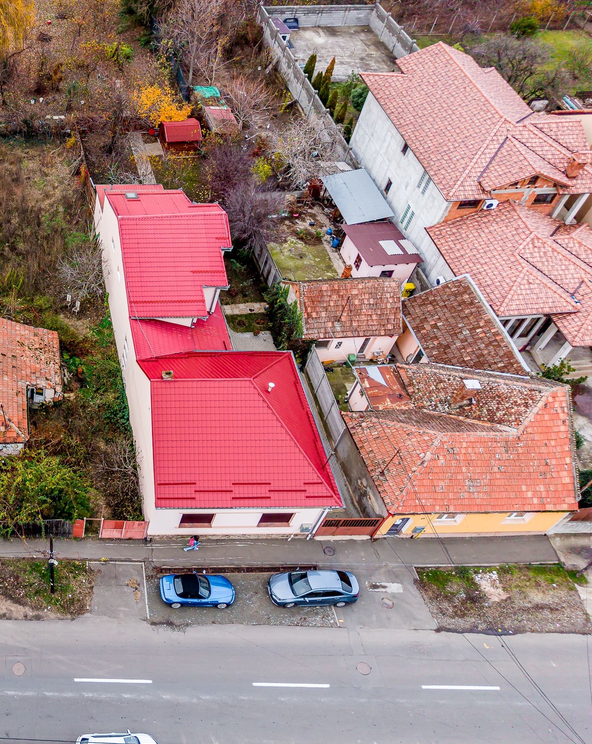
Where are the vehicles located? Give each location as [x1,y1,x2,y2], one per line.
[73,729,163,744]
[156,565,236,608]
[263,560,363,604]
